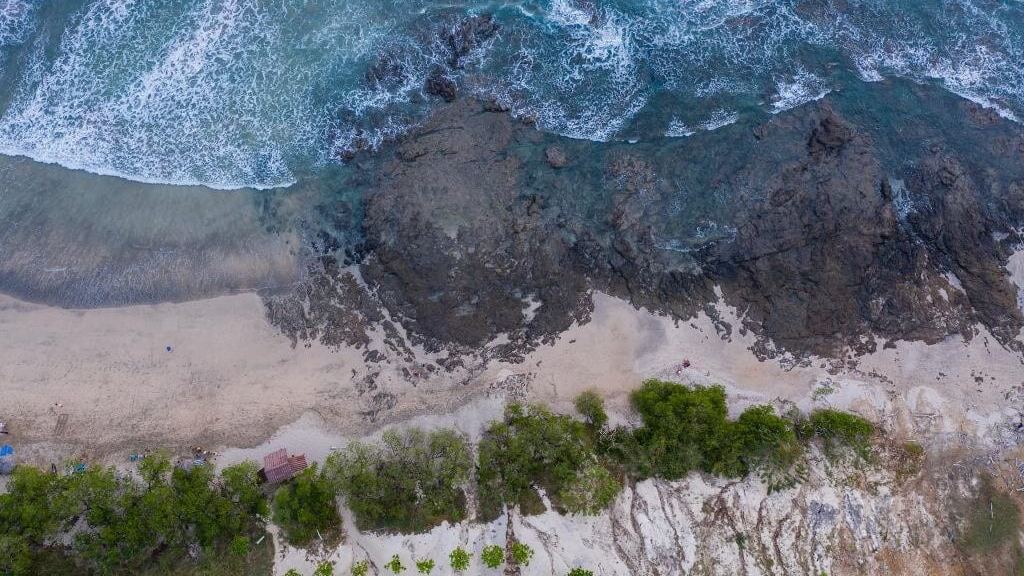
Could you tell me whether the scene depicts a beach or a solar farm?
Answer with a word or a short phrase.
beach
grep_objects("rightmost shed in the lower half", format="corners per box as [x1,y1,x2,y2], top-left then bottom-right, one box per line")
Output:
[261,447,308,484]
